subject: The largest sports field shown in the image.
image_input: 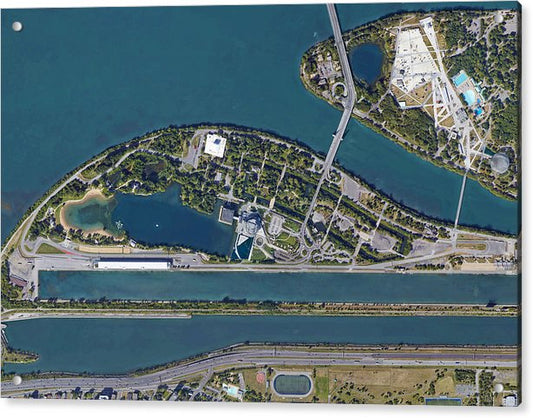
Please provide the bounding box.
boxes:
[271,371,313,397]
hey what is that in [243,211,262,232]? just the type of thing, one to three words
building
